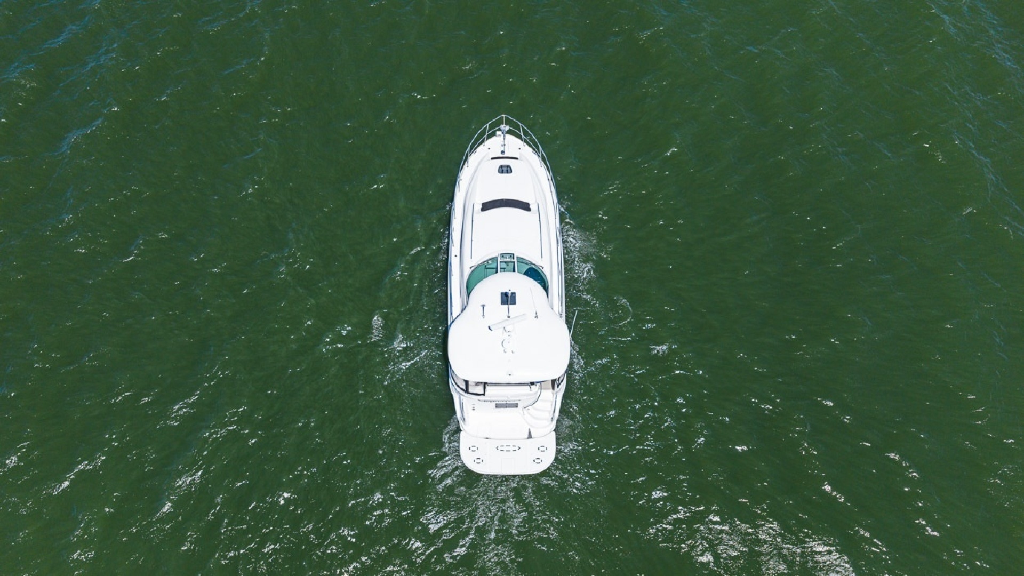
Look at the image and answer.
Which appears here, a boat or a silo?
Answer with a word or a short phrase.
boat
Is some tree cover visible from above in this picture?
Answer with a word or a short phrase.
No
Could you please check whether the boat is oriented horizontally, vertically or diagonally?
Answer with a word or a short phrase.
vertically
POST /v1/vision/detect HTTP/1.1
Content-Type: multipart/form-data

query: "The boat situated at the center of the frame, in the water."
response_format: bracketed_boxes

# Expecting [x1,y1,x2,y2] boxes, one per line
[447,114,577,475]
